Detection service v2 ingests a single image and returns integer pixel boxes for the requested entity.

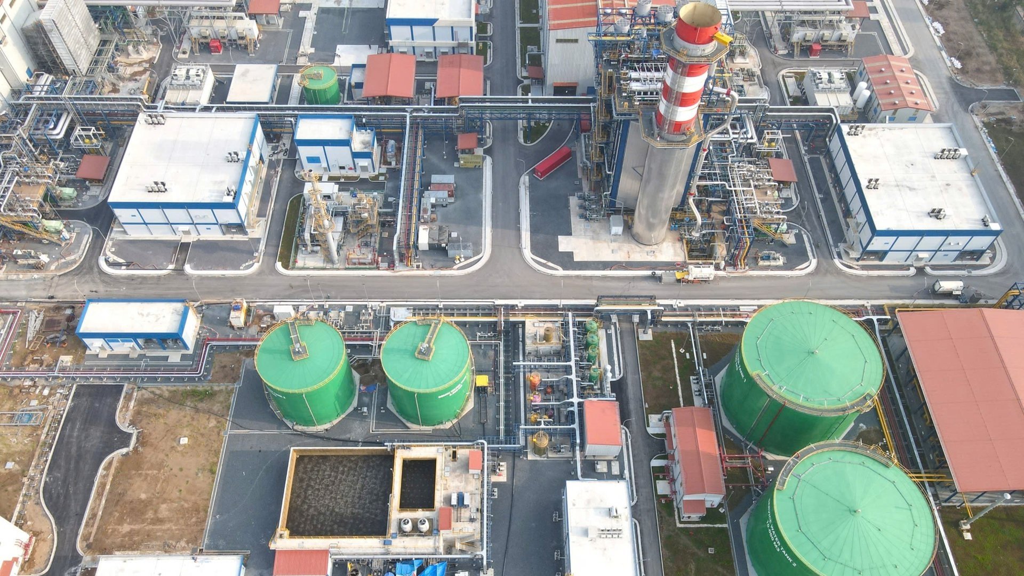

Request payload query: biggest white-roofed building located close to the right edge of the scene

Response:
[822,122,1004,267]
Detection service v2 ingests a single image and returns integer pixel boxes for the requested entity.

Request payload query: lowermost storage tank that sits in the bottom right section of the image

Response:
[740,438,941,576]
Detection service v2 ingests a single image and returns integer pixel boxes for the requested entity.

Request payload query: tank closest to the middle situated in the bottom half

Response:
[382,313,475,427]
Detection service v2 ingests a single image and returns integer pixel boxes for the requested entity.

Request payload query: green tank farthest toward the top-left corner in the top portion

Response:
[295,60,346,110]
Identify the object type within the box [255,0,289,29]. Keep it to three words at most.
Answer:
shed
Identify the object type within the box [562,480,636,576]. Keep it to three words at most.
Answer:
building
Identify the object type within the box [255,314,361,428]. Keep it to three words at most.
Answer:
water tank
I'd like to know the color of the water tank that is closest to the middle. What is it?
green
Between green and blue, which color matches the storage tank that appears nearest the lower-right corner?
green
